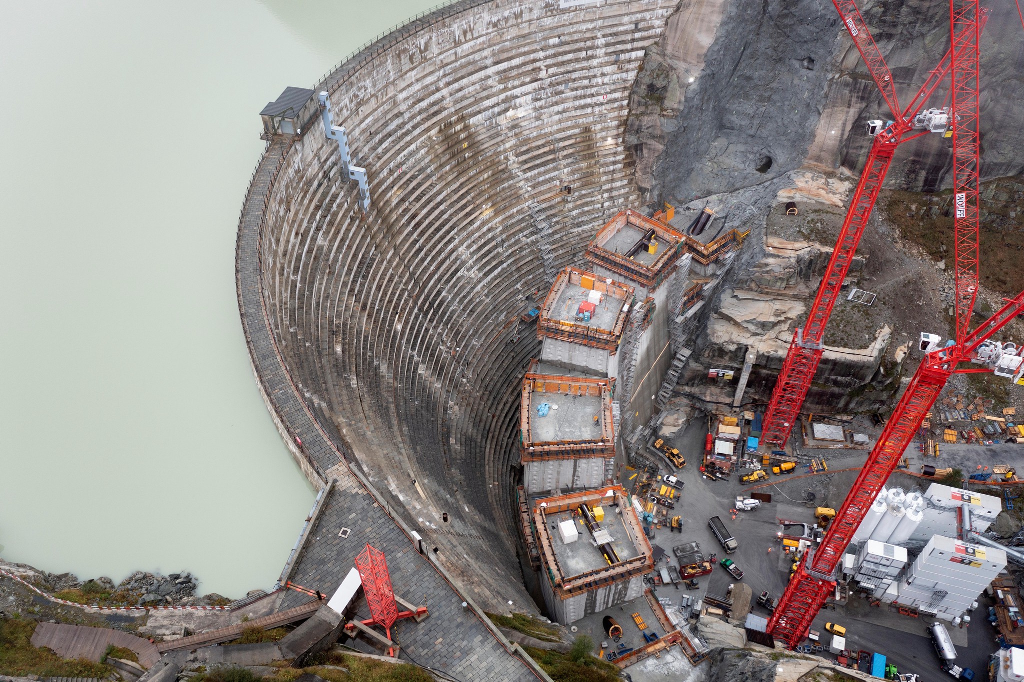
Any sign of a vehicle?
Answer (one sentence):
Yes, the image includes a vehicle.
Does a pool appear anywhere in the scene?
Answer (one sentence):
No, this view has no pool in it.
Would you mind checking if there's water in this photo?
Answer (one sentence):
Yes, the picture does contain water.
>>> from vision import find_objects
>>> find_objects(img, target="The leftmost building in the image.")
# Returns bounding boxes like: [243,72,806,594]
[249,87,312,146]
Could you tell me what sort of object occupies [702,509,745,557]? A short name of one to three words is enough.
truck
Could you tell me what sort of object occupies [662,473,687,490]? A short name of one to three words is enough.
vehicle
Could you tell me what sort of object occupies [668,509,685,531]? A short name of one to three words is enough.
work vehicle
